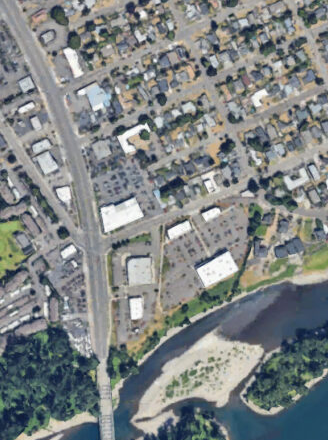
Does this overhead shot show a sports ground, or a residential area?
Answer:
residential area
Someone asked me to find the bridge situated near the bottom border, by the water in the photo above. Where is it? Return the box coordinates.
[96,354,113,440]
